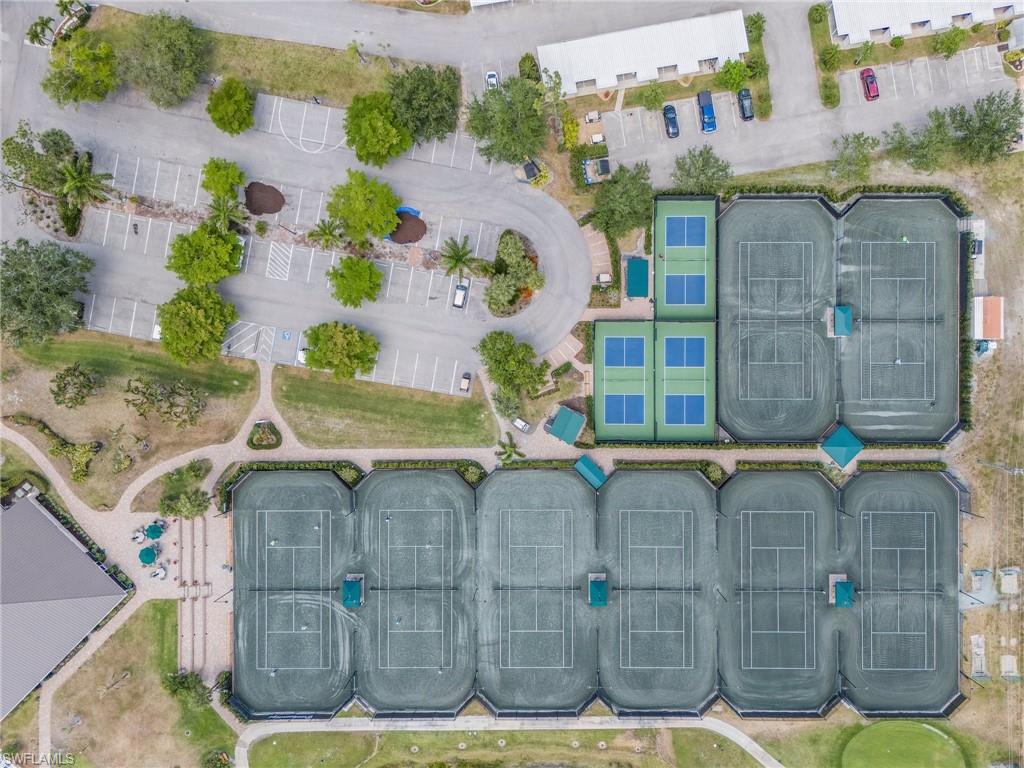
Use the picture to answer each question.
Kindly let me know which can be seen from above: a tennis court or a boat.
tennis court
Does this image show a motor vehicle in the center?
Yes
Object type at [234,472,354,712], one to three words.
tennis court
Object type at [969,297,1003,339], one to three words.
shed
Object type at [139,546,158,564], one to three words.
umbrella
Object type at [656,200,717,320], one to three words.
sports court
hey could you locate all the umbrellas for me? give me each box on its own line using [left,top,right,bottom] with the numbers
[139,546,158,564]
[146,523,163,540]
